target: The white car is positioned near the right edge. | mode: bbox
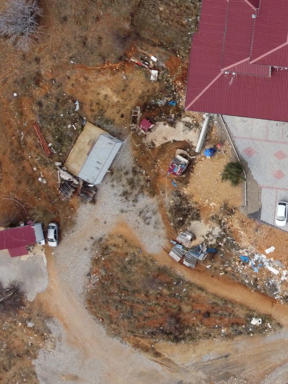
[274,200,288,226]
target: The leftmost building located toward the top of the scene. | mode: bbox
[64,122,127,184]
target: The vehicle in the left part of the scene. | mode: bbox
[46,222,61,246]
